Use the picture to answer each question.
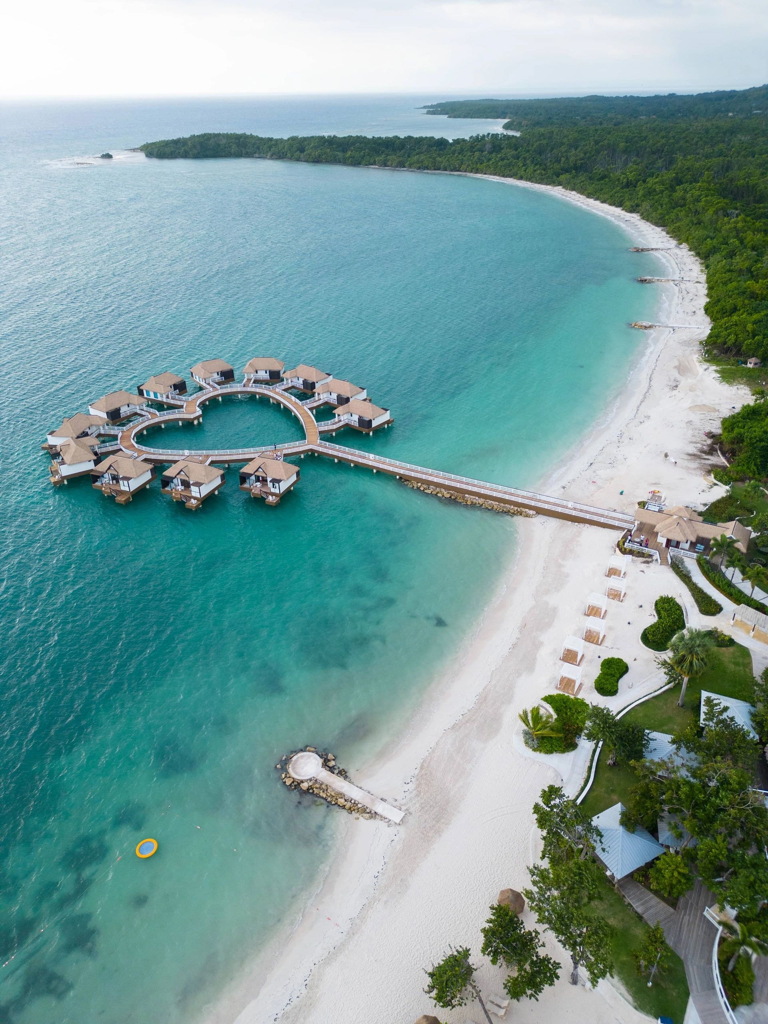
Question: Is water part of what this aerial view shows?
Yes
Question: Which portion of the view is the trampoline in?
bottom left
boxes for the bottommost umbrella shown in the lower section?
[412,1004,442,1024]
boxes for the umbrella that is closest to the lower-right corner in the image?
[499,883,525,909]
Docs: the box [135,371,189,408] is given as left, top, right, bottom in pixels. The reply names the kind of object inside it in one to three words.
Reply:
house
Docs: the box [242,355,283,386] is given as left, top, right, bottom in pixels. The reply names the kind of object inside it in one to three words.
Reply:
house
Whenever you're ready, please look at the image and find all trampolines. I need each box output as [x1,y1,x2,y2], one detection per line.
[135,838,158,859]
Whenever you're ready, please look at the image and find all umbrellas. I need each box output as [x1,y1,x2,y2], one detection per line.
[412,1004,442,1024]
[499,883,525,909]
